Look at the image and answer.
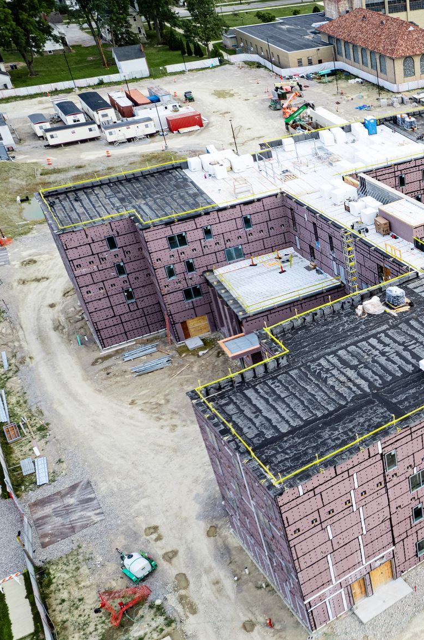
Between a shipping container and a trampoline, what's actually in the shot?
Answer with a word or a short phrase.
shipping container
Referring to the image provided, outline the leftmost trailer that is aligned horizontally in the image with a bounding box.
[42,119,99,146]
